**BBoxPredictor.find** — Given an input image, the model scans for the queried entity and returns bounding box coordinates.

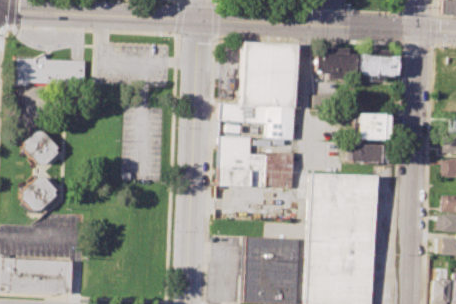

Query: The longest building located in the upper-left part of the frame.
[12,54,85,88]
